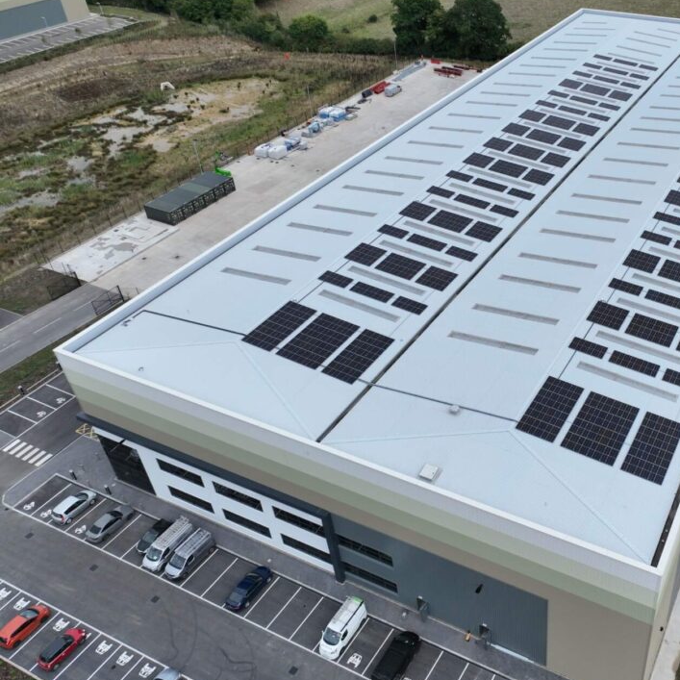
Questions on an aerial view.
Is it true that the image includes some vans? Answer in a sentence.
Yes, there's a van down there.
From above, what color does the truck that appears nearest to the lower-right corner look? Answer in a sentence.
The truck that appears nearest to the lower-right corner is black.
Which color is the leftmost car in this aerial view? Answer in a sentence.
The color of the leftmost car is red.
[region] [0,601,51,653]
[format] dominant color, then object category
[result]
red car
